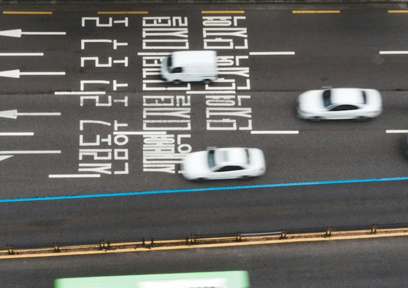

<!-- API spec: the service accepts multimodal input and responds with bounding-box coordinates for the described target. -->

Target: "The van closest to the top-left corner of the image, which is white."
[160,49,219,84]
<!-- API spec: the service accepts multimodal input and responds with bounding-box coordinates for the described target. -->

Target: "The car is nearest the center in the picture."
[182,143,265,181]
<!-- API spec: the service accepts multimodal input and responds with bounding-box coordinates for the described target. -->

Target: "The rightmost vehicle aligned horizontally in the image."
[299,83,382,120]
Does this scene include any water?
No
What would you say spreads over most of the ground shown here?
paved ground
